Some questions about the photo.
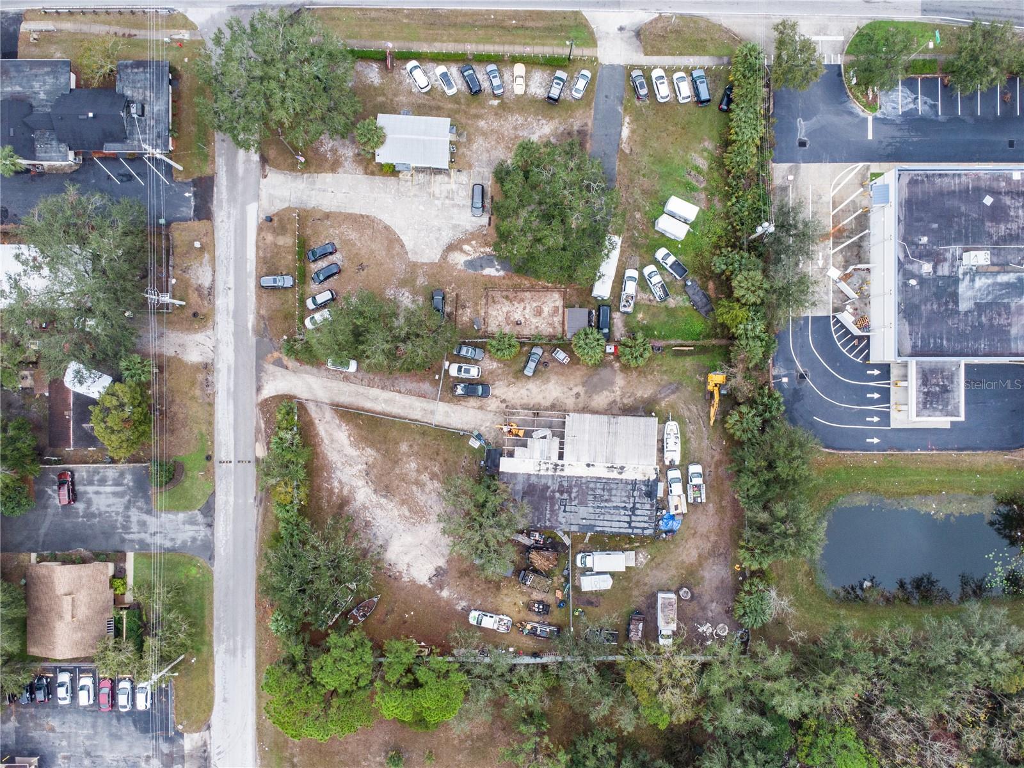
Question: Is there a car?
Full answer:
Yes, a car is visible in the scene.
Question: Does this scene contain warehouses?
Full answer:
Yes, there's a warehouse here.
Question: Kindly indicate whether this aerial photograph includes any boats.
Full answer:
Yes, the photo shows a boat.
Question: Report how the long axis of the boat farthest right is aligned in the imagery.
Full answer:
The boat farthest right runs vertically in the image.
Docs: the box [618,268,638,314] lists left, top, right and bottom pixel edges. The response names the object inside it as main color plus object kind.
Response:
white vehicle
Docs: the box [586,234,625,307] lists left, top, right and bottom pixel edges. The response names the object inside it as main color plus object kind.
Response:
white trailer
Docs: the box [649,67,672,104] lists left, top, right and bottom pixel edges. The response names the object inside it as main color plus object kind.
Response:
white car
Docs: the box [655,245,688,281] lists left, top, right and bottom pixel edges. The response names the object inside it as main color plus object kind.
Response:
white truck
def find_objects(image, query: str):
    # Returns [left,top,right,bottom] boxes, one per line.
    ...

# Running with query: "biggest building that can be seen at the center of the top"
[375,108,457,172]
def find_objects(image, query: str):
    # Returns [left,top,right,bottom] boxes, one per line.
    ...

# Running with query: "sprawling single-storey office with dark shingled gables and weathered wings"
[0,58,174,164]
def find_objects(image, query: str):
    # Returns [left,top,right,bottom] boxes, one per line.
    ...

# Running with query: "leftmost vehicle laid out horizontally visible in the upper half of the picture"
[260,273,294,289]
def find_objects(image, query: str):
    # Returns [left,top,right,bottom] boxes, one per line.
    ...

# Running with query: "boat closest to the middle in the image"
[660,414,680,469]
